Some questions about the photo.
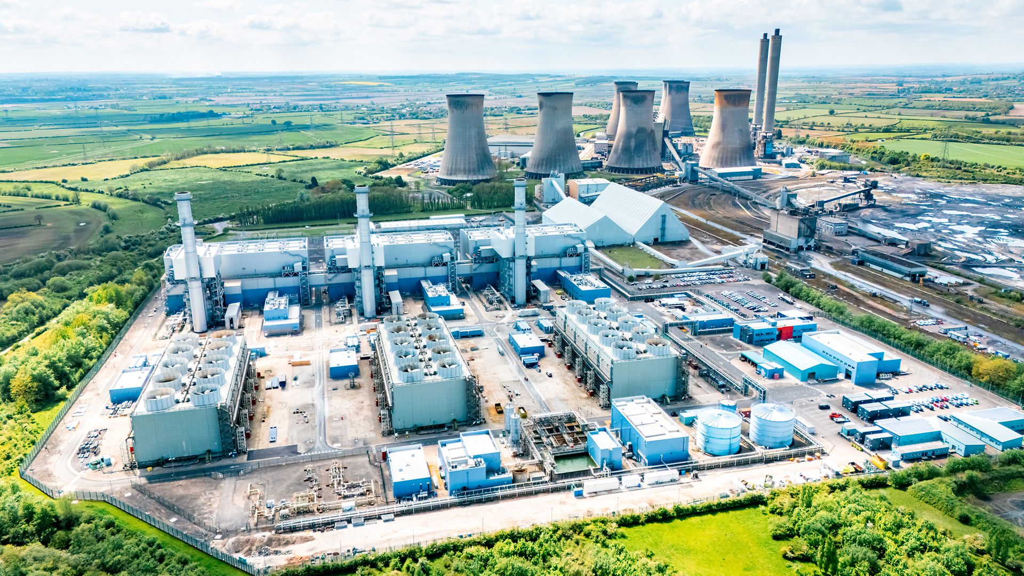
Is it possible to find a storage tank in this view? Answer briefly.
Yes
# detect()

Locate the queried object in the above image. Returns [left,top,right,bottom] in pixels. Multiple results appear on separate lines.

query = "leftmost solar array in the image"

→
[885,417,934,433]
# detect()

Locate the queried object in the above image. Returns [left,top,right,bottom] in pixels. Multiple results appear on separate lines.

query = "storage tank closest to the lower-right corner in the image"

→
[750,400,800,449]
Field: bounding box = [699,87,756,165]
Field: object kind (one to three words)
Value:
cooling tower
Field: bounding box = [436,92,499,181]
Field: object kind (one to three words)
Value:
cooling tower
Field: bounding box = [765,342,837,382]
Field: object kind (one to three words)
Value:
shed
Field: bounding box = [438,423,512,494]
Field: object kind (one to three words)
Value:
house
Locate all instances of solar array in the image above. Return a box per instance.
[975,402,1024,419]
[885,417,934,433]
